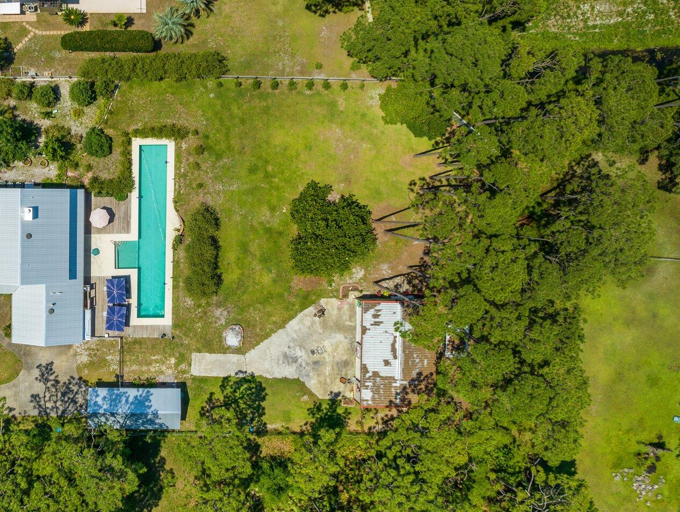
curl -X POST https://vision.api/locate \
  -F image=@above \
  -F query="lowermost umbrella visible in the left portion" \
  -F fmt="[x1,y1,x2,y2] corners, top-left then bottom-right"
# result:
[105,305,127,332]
